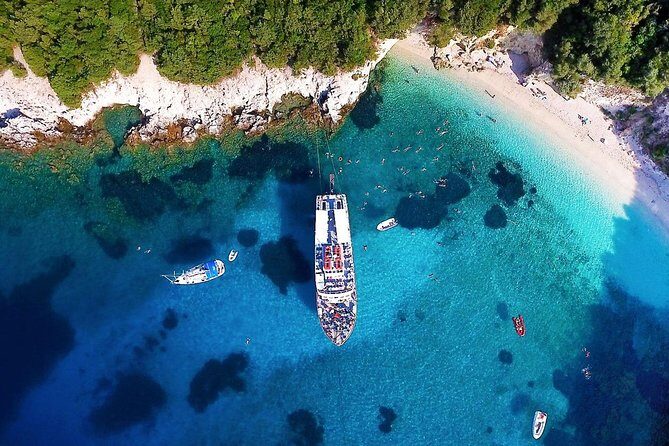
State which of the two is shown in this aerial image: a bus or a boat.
boat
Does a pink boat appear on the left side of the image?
No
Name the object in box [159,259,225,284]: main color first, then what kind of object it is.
white boat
